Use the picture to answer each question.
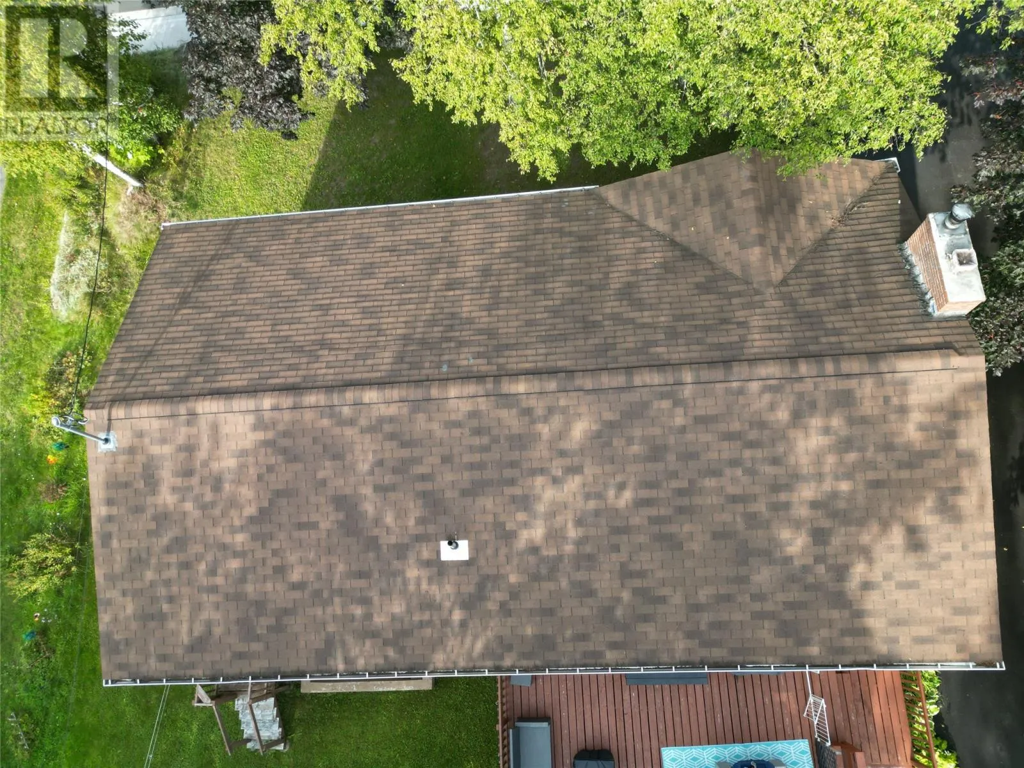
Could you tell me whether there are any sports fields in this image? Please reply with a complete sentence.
No, I can see no sports field in this picture.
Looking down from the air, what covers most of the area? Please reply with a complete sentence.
The scene is dominated by buildings.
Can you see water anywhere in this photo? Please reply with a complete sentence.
No, there is no water in the image.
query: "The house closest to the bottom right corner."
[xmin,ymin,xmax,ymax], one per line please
[56,140,1005,687]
